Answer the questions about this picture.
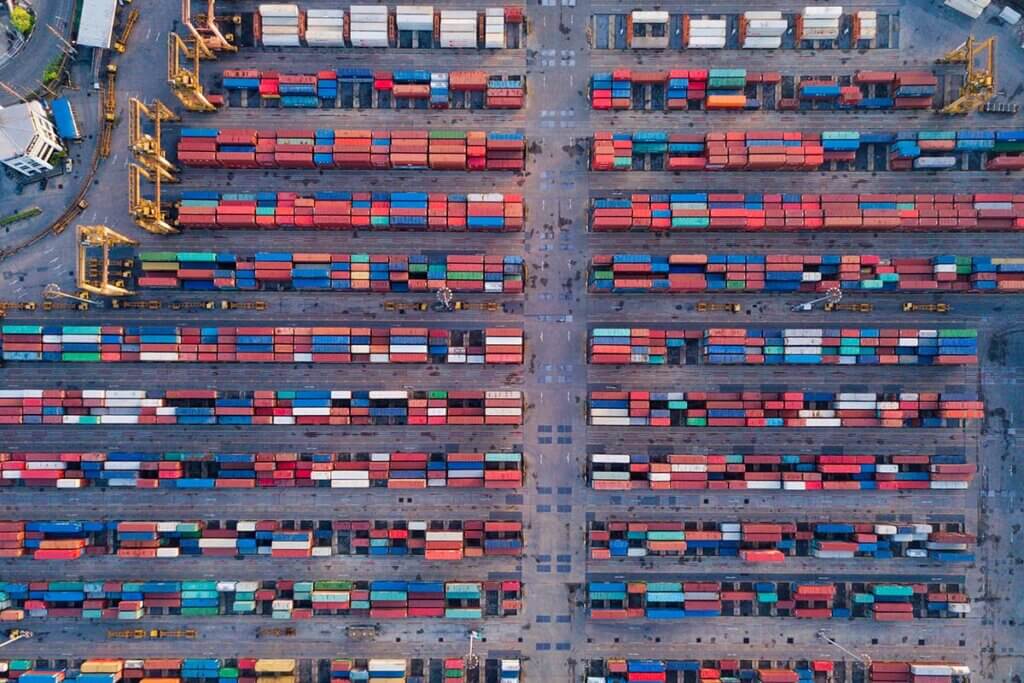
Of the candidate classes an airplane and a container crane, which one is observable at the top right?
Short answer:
container crane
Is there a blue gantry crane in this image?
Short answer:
No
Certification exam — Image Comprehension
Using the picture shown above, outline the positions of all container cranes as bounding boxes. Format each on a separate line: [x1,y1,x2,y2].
[129,163,181,235]
[129,97,181,172]
[183,0,238,53]
[168,33,218,111]
[940,37,997,112]
[77,224,138,296]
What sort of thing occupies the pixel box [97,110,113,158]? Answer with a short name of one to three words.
vehicle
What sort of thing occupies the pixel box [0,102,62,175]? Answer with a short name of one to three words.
building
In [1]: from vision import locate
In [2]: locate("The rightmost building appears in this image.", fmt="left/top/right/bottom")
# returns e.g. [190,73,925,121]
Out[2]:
[995,7,1021,27]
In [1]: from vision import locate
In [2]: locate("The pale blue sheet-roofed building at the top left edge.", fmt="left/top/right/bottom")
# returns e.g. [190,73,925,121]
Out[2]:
[77,0,119,49]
